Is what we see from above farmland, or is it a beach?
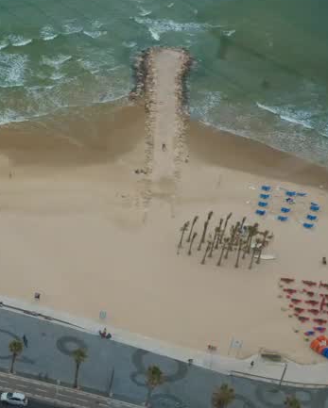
beach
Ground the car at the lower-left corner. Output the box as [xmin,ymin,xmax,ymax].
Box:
[0,391,28,408]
